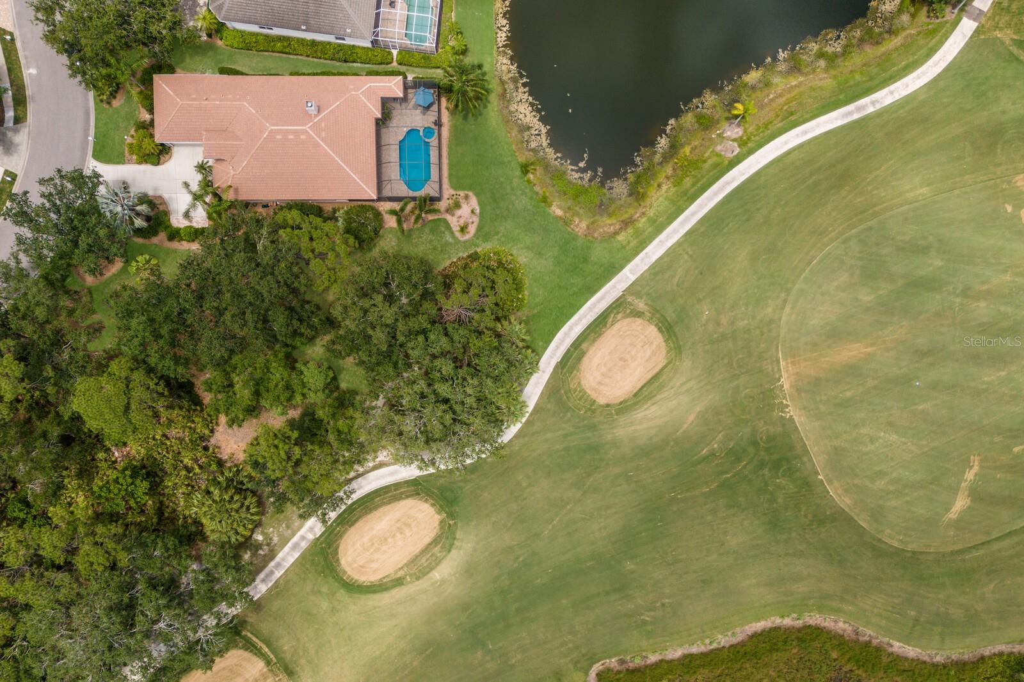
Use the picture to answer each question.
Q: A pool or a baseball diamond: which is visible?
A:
pool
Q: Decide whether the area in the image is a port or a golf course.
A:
golf course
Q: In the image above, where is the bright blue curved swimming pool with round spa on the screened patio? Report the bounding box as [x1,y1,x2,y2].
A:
[396,125,437,194]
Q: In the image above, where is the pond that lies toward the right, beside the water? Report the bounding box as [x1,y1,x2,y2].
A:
[496,0,884,189]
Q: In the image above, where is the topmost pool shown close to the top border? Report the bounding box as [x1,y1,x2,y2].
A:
[403,0,435,44]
